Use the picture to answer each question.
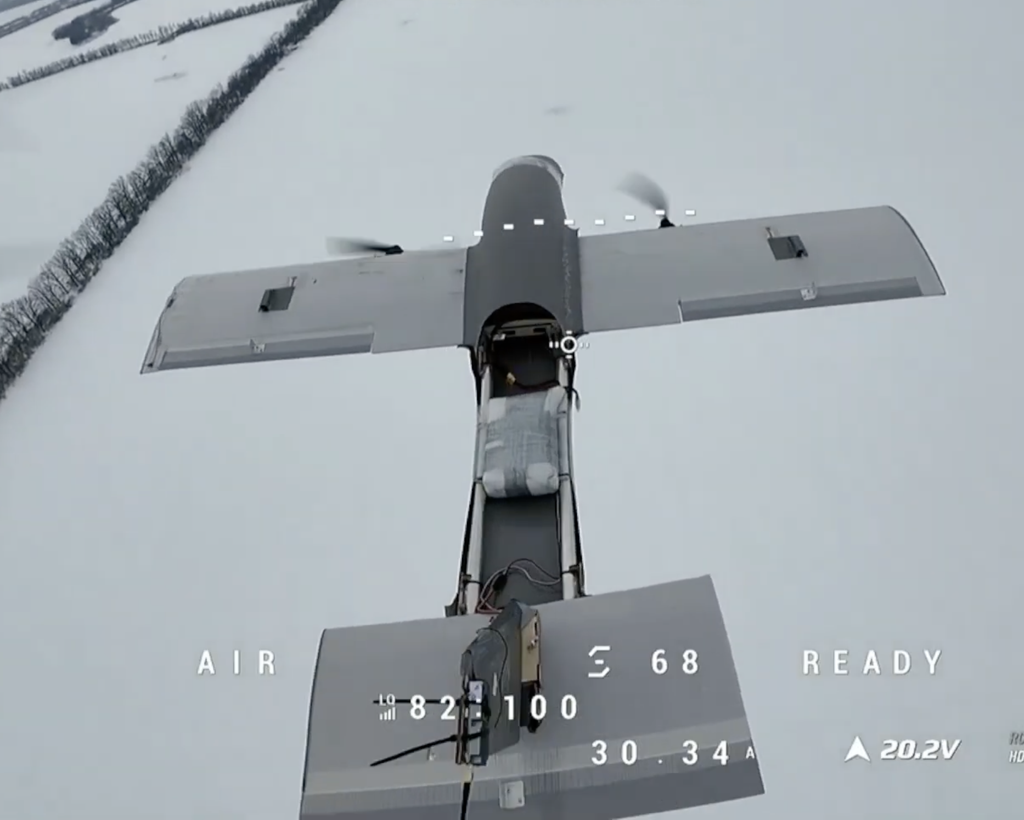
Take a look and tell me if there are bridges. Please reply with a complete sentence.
No, the scene contains no bridge.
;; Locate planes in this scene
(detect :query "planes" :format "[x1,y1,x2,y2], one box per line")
[140,152,948,820]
